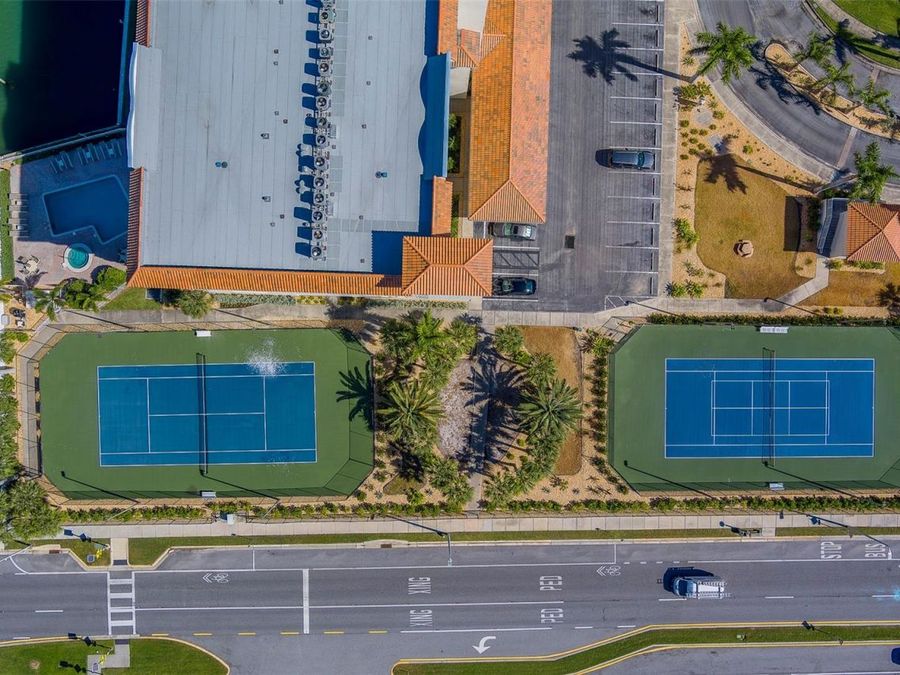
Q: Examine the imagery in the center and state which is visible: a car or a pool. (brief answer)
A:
car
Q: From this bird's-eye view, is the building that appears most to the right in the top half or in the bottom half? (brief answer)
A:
top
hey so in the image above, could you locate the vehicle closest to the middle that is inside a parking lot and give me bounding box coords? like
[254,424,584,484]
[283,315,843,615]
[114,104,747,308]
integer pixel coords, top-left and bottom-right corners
[492,275,536,295]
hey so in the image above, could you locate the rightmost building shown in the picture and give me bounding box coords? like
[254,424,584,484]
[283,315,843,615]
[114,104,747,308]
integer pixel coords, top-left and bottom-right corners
[830,201,900,264]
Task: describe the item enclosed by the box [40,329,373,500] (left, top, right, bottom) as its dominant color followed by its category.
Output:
green tennis court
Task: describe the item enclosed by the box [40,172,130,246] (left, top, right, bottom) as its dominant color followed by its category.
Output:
blue swimming pool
